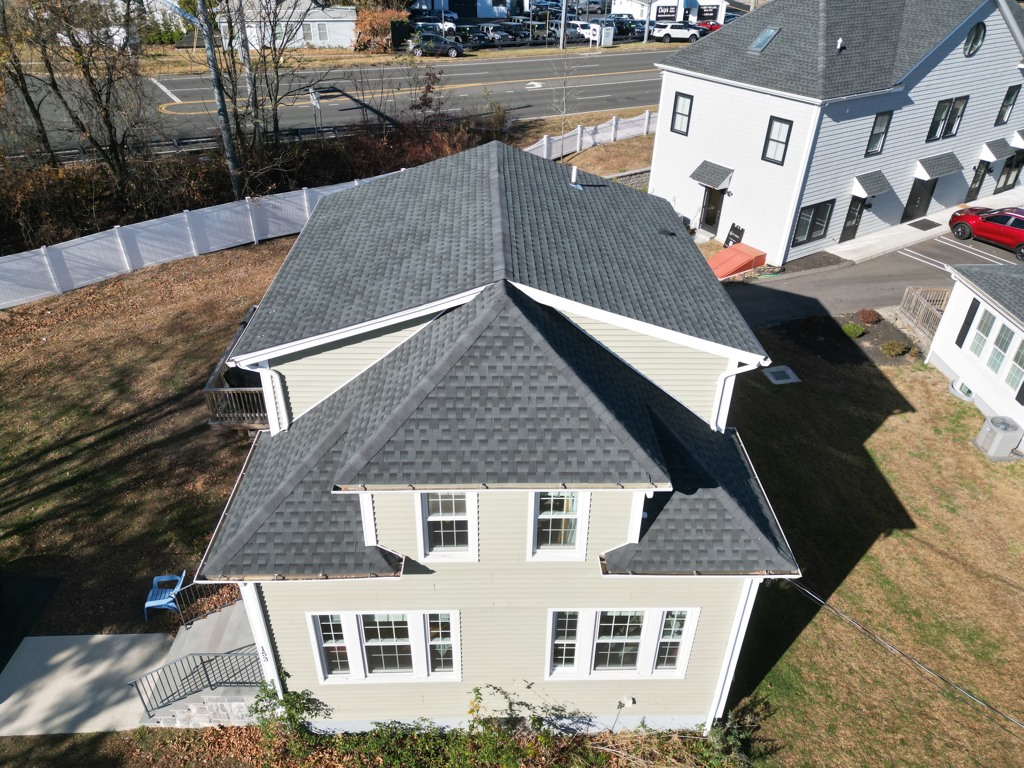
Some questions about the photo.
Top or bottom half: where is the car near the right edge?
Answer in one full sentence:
The car near the right edge sits in the top half of the picture.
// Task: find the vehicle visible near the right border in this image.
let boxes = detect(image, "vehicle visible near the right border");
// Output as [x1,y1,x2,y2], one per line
[950,206,1024,262]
